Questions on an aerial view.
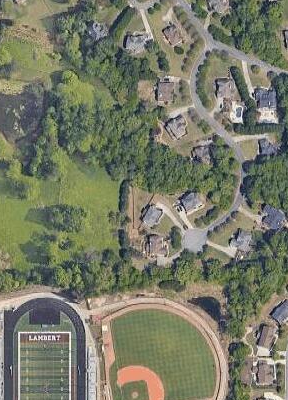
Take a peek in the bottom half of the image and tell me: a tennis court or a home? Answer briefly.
home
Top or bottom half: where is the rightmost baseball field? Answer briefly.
bottom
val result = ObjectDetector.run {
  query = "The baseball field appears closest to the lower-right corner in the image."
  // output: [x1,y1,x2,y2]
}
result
[103,303,221,400]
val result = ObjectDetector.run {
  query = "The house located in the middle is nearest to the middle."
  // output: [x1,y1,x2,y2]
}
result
[140,204,164,227]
